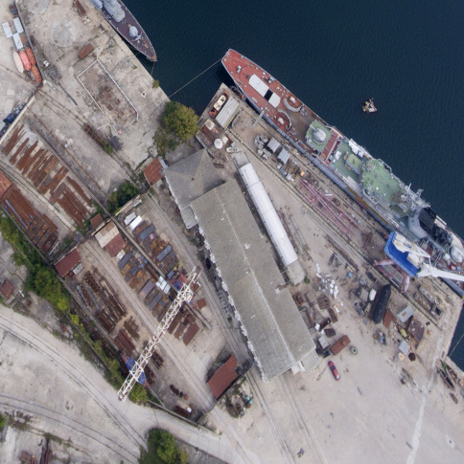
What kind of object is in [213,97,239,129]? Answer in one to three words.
shed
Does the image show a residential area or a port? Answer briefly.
port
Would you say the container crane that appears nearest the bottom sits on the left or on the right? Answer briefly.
left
